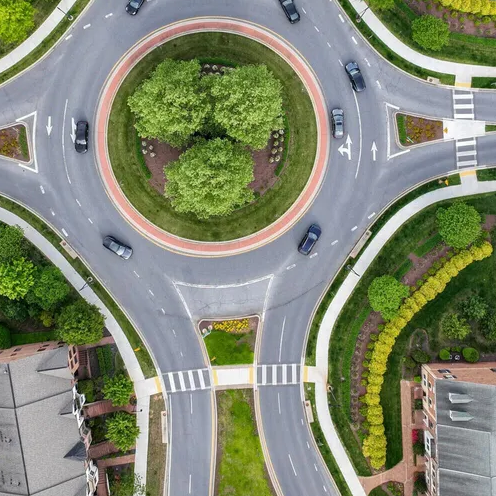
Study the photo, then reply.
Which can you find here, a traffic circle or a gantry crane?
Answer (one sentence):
The image shows a traffic circle.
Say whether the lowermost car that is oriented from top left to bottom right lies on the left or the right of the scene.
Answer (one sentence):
The lowermost car that is oriented from top left to bottom right is on the left side of the image.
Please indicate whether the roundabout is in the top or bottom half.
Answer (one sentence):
It is in the top half that the roundabout appears.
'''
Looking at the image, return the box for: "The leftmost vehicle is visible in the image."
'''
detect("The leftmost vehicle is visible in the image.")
[73,119,90,153]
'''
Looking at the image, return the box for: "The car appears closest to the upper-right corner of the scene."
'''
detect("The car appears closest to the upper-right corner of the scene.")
[343,60,366,92]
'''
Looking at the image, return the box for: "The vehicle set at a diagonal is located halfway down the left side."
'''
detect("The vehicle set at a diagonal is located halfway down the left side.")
[101,234,133,259]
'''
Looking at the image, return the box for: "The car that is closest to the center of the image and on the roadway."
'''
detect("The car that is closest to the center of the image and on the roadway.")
[298,222,321,256]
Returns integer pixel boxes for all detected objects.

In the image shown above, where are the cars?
[330,107,345,139]
[126,0,144,17]
[279,0,299,25]
[298,222,321,256]
[101,234,133,259]
[343,60,366,92]
[73,119,90,153]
